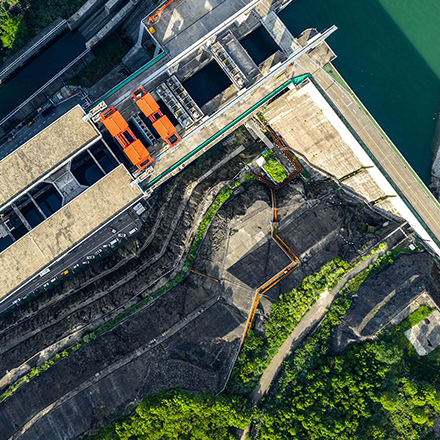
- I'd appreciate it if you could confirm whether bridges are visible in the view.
Yes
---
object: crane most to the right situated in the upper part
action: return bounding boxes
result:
[128,84,184,150]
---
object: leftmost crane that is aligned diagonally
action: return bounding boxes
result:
[98,103,155,175]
